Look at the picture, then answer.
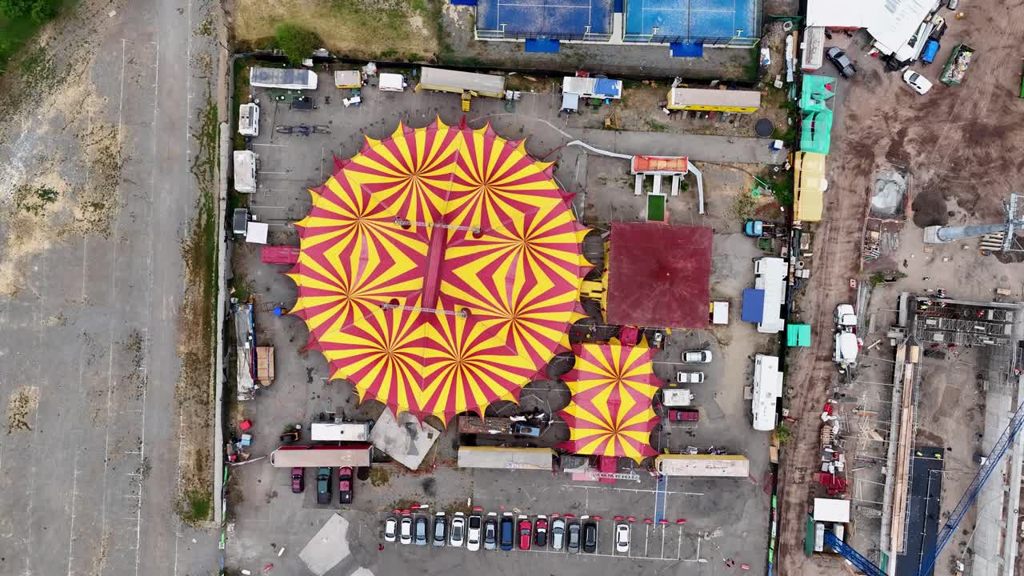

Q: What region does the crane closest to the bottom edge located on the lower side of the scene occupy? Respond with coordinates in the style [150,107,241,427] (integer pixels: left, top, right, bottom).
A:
[800,496,901,576]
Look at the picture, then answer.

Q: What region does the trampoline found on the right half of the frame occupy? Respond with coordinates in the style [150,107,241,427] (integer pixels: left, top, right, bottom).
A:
[755,118,775,137]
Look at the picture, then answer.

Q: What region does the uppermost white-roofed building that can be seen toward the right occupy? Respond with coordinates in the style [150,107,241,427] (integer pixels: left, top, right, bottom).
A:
[806,0,940,62]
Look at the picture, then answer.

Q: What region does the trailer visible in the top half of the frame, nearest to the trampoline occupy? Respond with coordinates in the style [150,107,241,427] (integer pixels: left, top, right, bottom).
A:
[662,88,760,113]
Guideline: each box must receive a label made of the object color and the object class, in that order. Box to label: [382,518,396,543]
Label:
white car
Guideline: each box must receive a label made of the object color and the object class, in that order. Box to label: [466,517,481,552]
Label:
white vehicle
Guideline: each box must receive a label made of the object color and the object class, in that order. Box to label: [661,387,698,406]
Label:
white camper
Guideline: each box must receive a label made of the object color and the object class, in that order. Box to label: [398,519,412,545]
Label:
white car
